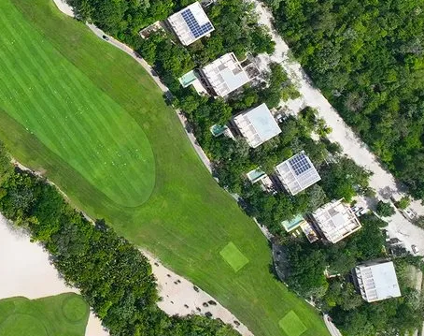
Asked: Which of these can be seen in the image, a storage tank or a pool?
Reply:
pool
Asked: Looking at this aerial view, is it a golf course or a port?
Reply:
golf course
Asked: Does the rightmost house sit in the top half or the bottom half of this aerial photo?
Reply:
bottom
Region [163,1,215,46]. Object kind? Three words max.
house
